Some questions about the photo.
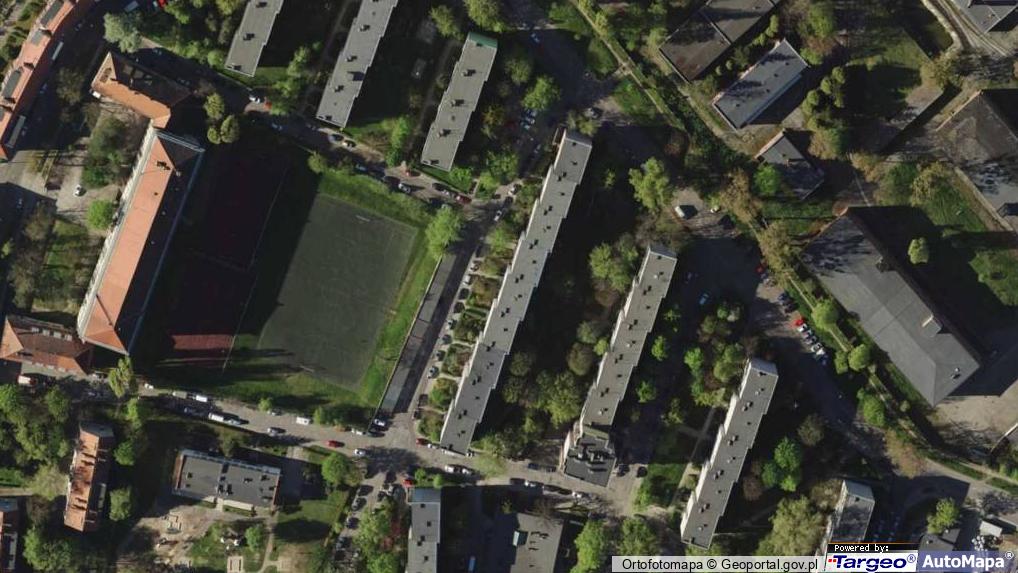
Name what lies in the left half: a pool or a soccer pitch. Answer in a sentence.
What appears in the left half is a soccer pitch.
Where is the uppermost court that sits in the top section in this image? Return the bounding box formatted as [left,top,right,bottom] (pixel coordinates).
[187,146,284,267]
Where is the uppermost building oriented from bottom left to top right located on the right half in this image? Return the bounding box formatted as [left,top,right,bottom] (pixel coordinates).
[659,0,779,82]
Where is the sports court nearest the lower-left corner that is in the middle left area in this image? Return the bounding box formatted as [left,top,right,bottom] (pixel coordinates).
[160,247,249,357]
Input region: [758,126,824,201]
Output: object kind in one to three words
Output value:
building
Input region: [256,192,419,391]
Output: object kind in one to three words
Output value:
soccer field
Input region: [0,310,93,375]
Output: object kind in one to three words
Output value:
house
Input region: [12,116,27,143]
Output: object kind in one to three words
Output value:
vehicle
